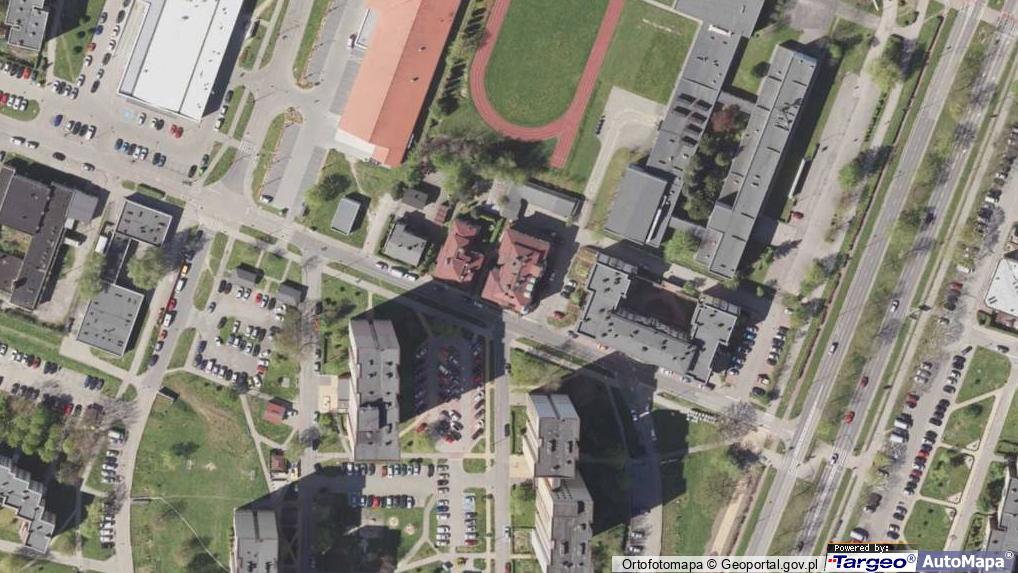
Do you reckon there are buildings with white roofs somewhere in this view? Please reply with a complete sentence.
Yes, there is a building with a white roof in the image.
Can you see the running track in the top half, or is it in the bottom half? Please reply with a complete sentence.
You can find the running track in the top half.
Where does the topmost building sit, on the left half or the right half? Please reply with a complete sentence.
The topmost building appears in the left half of the scene.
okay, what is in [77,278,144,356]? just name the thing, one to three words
building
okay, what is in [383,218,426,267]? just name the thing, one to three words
house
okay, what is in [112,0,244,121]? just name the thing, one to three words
building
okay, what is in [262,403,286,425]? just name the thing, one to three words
shed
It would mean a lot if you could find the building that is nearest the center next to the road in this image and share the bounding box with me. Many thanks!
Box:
[481,227,550,314]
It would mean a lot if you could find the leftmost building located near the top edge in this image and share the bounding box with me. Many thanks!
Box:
[6,0,50,51]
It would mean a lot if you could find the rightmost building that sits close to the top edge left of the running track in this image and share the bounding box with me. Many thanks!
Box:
[335,0,460,167]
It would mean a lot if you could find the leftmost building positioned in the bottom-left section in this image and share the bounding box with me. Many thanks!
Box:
[0,452,57,553]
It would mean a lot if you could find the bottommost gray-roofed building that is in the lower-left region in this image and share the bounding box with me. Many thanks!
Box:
[231,511,278,573]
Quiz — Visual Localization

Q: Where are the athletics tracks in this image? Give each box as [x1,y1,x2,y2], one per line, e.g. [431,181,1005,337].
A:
[468,0,624,169]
